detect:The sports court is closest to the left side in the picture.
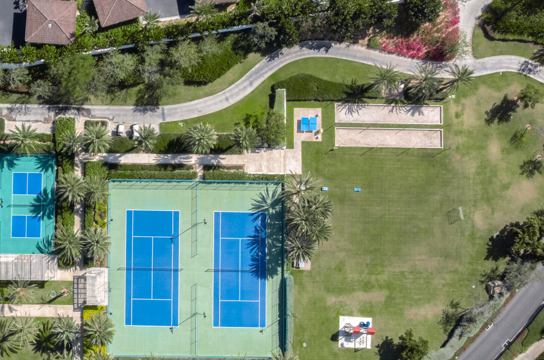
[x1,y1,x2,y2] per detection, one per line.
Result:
[0,154,55,254]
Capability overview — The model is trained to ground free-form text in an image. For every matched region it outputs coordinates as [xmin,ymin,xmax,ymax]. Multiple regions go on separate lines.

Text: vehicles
[131,123,140,137]
[117,123,125,136]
